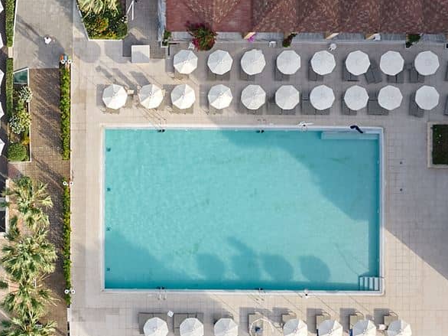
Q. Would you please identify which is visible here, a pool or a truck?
pool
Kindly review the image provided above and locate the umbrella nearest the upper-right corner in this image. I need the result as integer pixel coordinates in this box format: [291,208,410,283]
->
[413,51,438,77]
